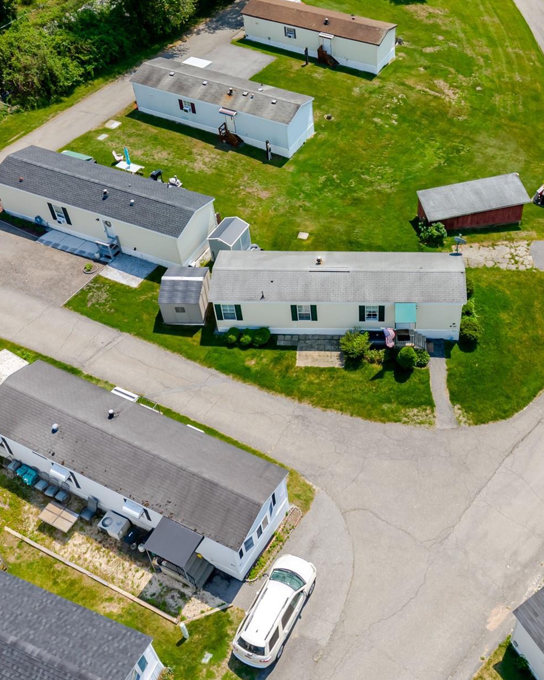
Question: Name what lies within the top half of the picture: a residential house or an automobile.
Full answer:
Looking within the top half of the picture, you will find a residential house.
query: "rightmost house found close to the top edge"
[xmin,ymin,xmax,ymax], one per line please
[239,0,398,74]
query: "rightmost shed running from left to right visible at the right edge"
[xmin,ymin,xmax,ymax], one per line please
[417,172,532,232]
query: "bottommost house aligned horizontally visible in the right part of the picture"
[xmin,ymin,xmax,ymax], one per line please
[207,247,467,344]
